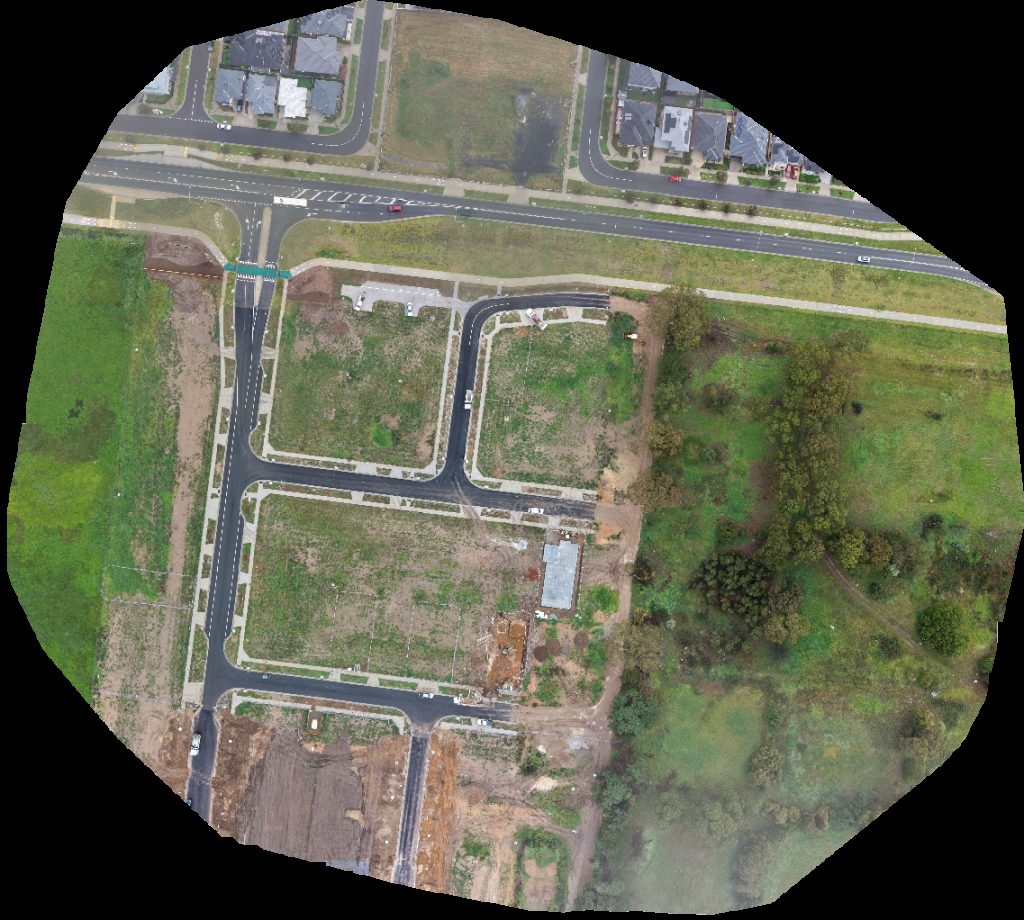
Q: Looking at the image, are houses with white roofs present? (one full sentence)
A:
Yes, the picture does show a house with a white roof.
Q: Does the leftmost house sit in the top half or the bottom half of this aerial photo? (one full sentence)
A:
The leftmost house is in the top half of the image.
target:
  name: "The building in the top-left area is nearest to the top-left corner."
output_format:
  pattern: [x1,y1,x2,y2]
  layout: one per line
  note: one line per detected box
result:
[139,65,169,96]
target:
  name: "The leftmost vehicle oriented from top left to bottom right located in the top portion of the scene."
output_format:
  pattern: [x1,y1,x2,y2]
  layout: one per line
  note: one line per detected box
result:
[526,307,547,331]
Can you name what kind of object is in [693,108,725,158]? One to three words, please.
house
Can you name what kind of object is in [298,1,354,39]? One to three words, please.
house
